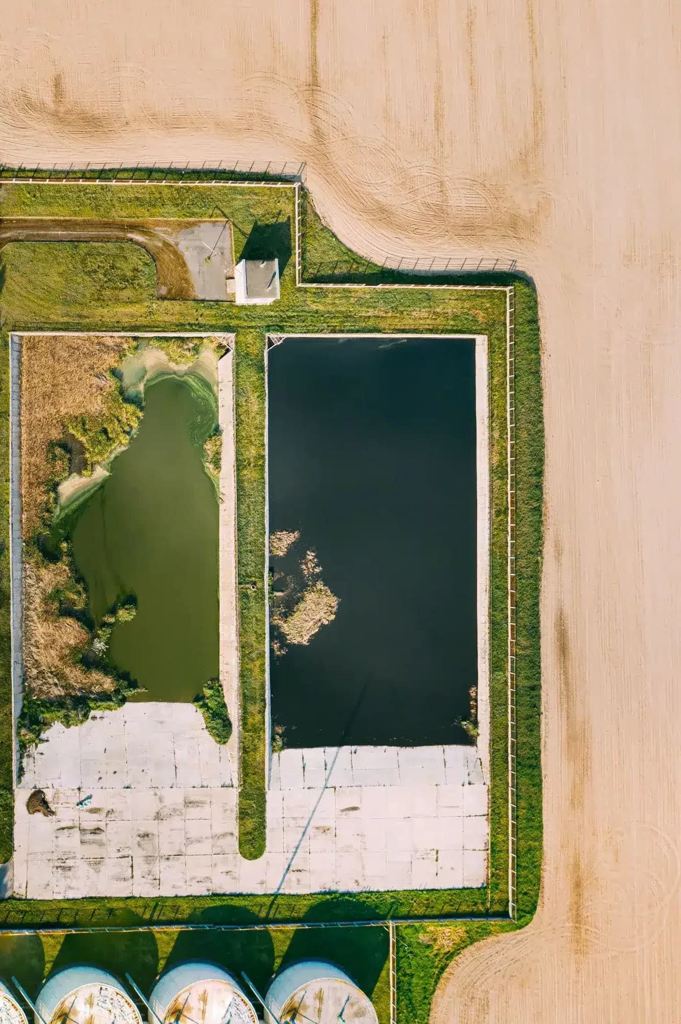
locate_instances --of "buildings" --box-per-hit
[235,258,280,305]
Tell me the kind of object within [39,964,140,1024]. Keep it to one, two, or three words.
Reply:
storage tank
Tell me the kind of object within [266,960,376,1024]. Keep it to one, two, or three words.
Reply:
storage tank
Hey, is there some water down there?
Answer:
Yes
